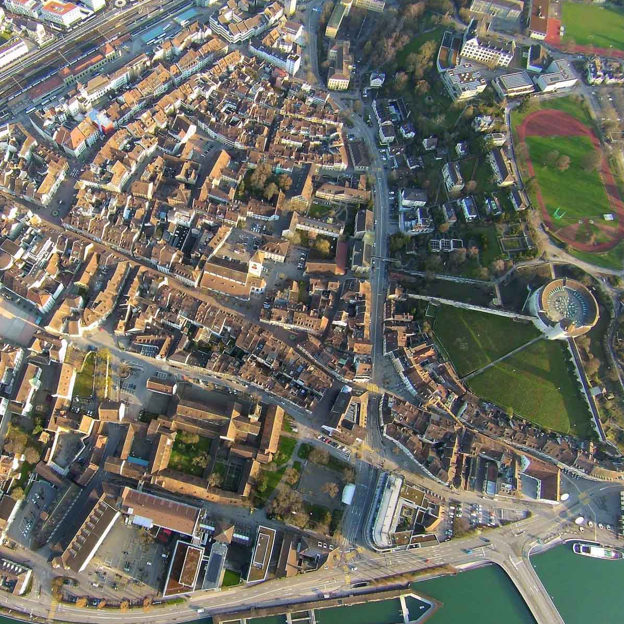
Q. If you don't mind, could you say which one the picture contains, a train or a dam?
train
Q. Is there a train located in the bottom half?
No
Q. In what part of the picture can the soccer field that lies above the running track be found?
top right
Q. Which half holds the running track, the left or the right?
right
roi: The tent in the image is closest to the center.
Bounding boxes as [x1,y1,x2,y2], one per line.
[338,484,355,507]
